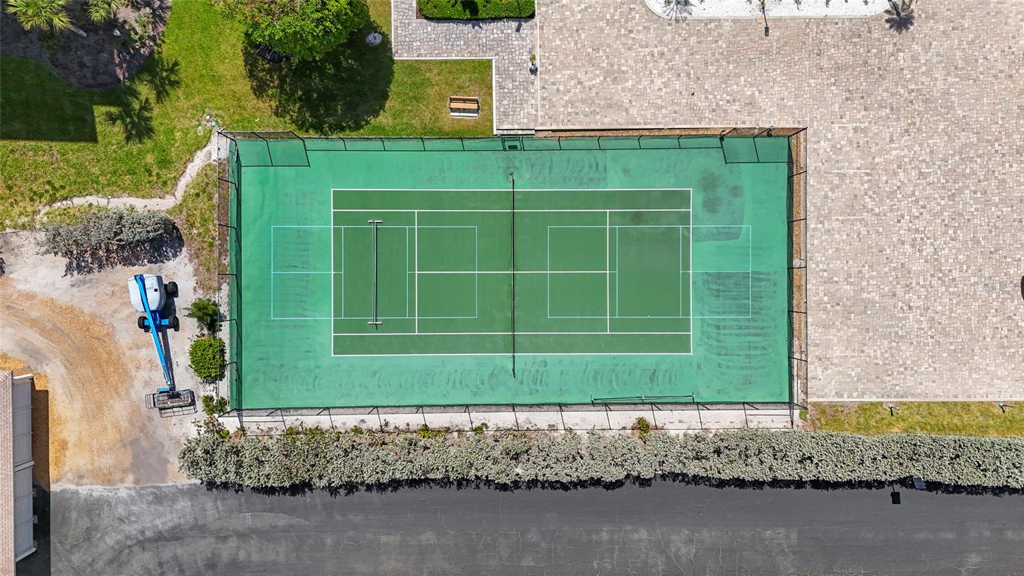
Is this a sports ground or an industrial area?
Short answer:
sports ground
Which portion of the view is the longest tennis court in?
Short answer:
center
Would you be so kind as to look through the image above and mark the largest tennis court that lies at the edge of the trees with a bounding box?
[229,137,793,411]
